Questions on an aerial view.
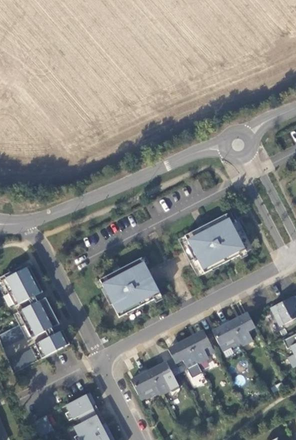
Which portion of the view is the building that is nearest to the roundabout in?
right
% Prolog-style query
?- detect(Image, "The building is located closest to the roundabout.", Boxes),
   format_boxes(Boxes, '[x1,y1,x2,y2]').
[180,214,252,276]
